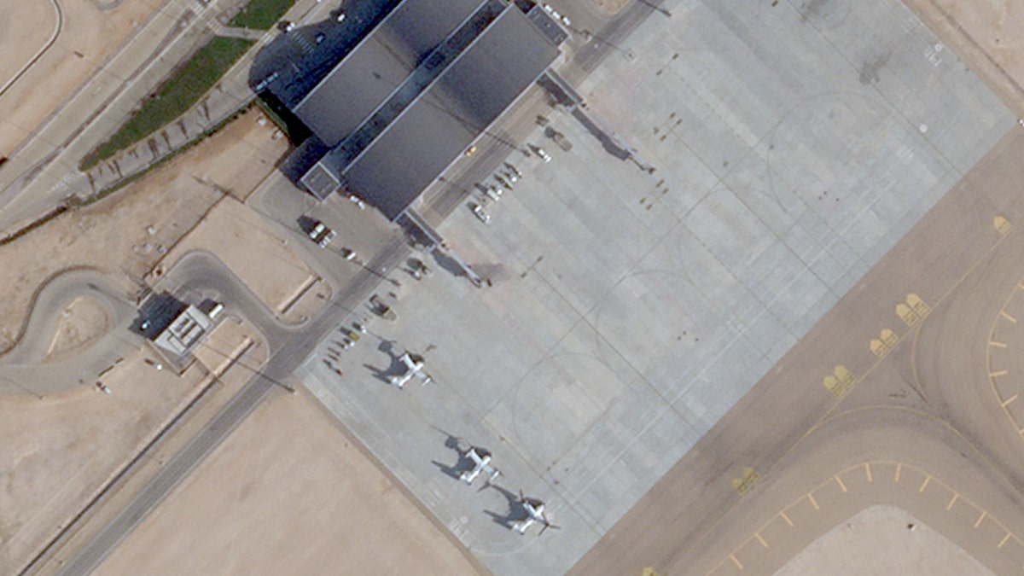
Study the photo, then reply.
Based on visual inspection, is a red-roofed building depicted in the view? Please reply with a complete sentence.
No, I find no red-roofed building anywhere in the image.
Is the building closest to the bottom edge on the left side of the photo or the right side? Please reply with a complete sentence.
The building closest to the bottom edge is on the left side of the image.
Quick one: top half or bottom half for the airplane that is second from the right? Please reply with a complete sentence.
The airplane that is second from the right is in the bottom half of the image.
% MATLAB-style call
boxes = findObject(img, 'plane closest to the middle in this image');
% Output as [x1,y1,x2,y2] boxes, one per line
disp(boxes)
[389,347,438,394]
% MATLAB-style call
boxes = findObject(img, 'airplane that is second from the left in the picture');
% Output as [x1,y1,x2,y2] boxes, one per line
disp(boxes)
[457,441,506,490]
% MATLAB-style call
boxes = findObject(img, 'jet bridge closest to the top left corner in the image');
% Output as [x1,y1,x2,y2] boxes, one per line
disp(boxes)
[406,208,486,289]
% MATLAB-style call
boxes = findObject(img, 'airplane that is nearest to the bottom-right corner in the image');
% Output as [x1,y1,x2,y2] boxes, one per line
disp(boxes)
[510,487,561,538]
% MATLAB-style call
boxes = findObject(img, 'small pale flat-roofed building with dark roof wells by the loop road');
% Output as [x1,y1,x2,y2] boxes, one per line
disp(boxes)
[153,305,213,355]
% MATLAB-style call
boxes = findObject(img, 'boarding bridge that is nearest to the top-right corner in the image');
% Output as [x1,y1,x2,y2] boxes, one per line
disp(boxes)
[546,68,646,166]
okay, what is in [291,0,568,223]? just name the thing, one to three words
building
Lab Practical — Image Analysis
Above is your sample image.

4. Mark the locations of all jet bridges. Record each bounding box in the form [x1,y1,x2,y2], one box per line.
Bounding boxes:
[406,208,486,289]
[546,68,646,166]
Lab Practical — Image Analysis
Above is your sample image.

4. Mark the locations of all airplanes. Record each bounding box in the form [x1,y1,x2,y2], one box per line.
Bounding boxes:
[389,347,438,394]
[457,441,506,490]
[510,487,561,538]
